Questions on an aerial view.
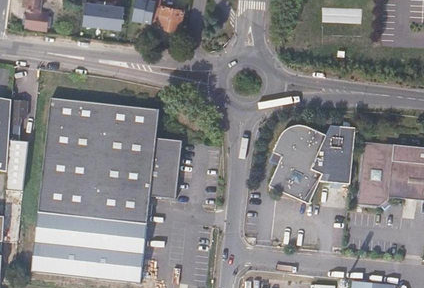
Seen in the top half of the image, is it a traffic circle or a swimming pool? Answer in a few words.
traffic circle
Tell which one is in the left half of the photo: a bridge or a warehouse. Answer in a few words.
warehouse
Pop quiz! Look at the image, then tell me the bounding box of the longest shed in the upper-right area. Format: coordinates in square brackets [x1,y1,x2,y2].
[322,7,364,25]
